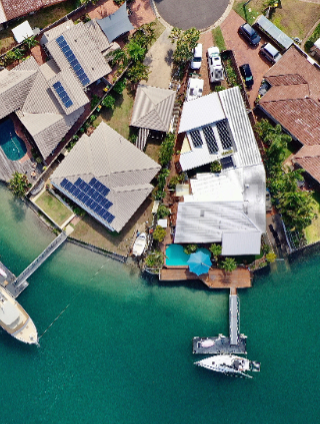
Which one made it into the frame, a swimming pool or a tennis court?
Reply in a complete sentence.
Looking from above, you can make out a swimming pool.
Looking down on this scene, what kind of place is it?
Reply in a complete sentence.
The picture captures a residential area.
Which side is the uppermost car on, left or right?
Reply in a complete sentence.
You can find the uppermost car on the right side of the picture.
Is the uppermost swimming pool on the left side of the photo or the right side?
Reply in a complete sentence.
The uppermost swimming pool sits on the left side.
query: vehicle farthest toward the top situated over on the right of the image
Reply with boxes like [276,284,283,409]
[237,25,261,48]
